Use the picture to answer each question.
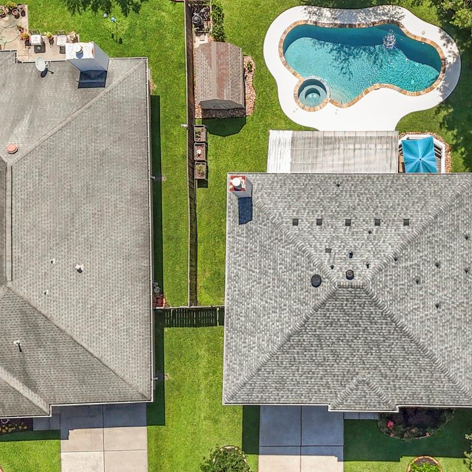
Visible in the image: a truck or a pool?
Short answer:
pool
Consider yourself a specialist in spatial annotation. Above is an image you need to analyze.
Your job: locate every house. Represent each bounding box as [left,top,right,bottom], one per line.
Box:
[0,42,157,418]
[222,172,472,412]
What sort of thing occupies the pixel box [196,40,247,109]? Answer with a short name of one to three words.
shed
